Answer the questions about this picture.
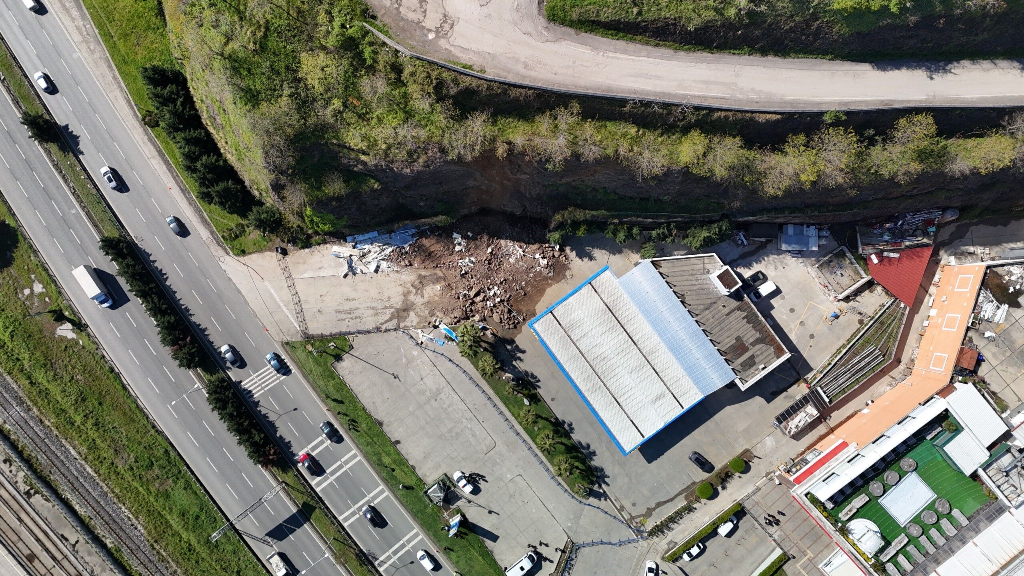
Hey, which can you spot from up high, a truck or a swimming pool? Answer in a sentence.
The image shows a truck.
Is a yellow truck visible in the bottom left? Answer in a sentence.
No, no yellow truck appears in the bottom left.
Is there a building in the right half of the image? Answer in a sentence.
Yes, I can see a building in the right half of the image.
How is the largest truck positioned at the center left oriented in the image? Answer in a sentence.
The largest truck positioned at the center left runs at an angle in the image.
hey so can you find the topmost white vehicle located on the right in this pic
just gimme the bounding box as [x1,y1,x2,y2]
[748,281,777,302]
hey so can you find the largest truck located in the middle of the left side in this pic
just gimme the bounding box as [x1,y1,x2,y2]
[71,264,115,307]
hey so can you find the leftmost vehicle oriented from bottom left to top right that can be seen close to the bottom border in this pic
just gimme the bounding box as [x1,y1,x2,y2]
[501,550,535,576]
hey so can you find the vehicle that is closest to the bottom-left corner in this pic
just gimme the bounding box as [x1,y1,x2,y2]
[262,547,291,576]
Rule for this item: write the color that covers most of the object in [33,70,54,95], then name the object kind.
white car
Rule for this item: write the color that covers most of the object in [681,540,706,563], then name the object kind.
white car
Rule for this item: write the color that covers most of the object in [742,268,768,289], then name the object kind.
black car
